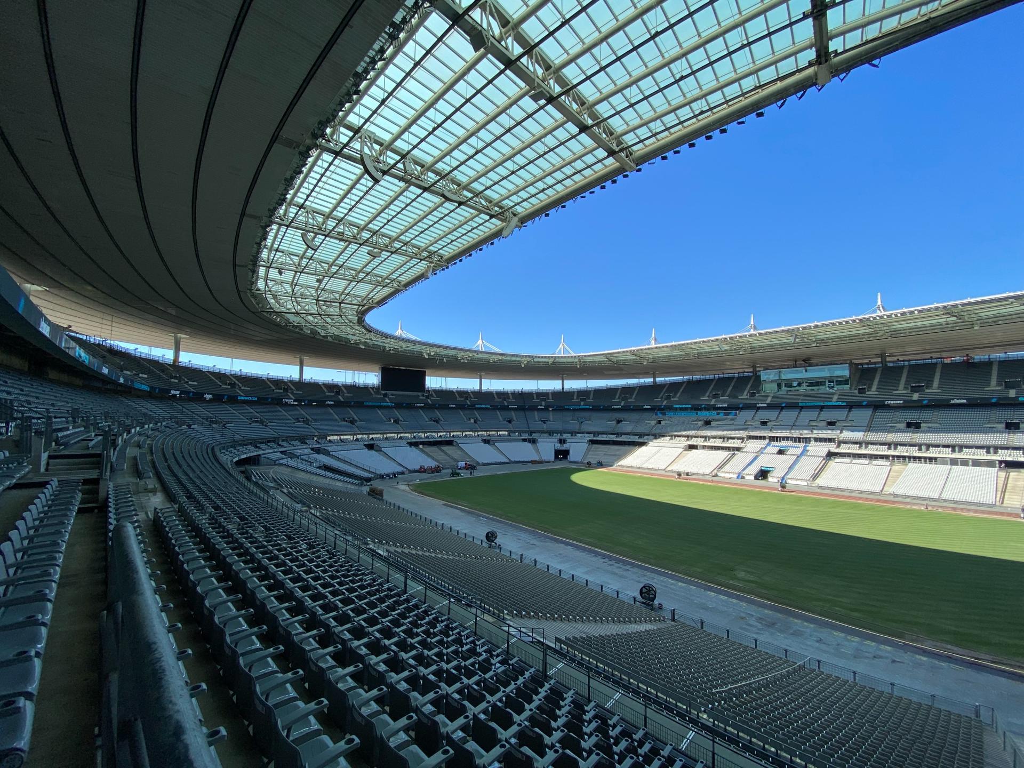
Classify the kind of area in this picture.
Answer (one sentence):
It's a sports ground.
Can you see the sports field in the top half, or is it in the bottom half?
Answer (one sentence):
It is in the bottom half that the sports field appears.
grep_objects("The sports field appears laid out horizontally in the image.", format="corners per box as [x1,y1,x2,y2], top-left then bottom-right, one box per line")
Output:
[411,467,1024,673]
